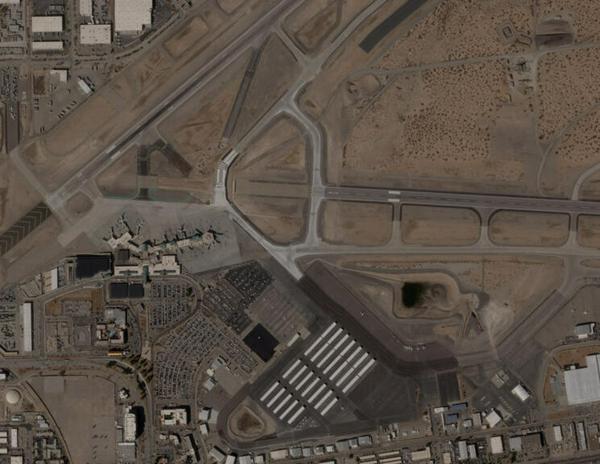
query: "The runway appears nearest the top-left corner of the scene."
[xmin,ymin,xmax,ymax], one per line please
[0,0,309,254]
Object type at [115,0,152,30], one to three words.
building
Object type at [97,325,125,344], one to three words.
building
